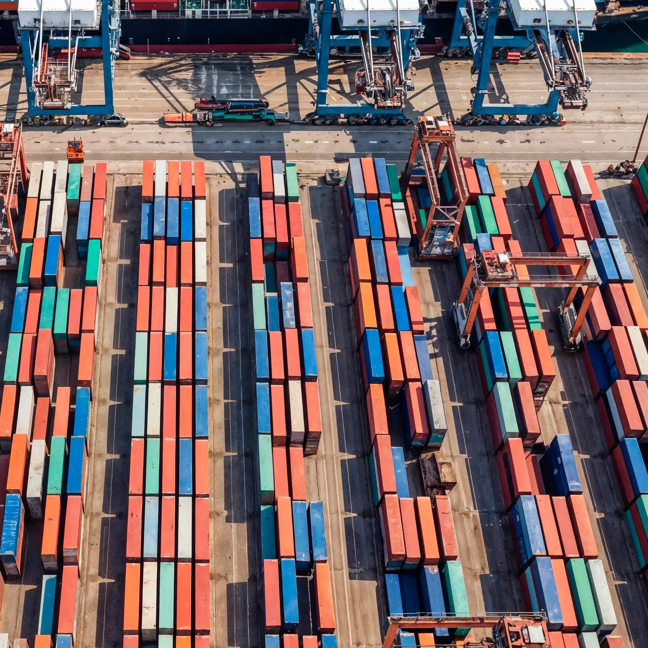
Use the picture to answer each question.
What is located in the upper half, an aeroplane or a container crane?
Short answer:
container crane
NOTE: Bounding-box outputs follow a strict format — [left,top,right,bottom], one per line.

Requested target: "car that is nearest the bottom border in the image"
[325,171,338,186]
